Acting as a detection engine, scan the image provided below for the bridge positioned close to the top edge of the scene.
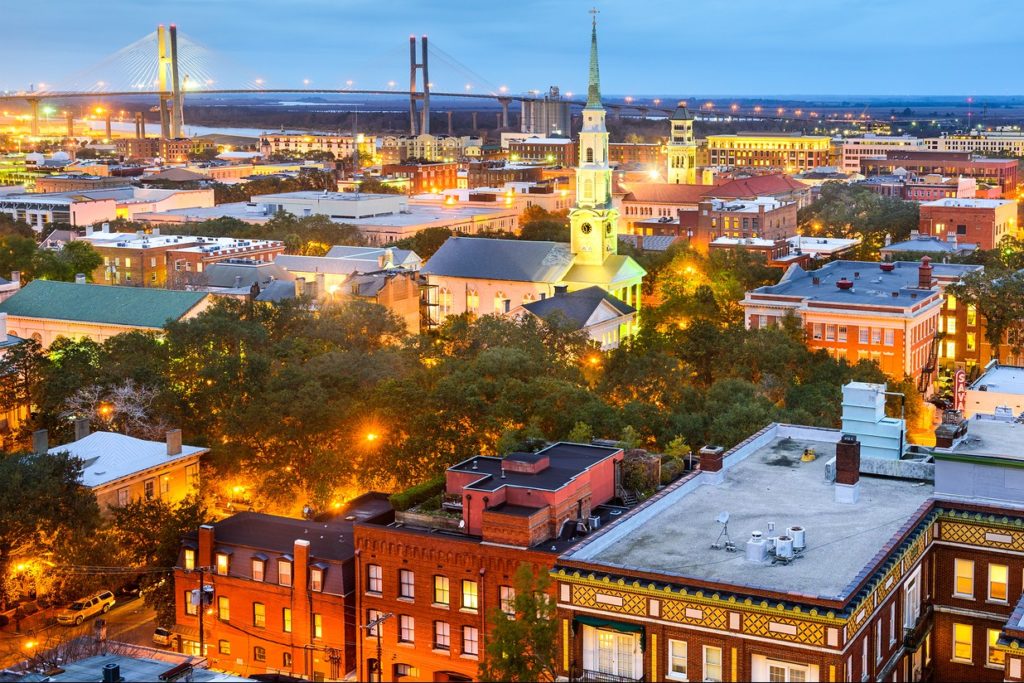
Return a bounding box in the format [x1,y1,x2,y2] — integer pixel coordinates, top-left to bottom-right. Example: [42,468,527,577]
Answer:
[0,25,771,137]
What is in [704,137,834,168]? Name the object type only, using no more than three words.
building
